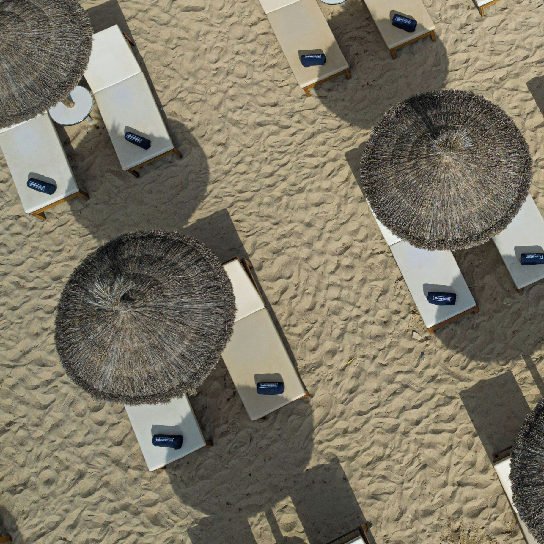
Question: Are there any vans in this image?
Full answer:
No, there appears to be no van in this shot.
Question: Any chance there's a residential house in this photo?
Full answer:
No, no residential house can be seen from above.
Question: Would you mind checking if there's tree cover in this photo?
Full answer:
No, there's no tree cover in this view.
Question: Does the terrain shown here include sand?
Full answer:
Yes, sand can be seen from above here.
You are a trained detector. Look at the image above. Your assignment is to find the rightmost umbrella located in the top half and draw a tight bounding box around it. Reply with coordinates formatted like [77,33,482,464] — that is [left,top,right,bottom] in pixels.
[356,85,536,255]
